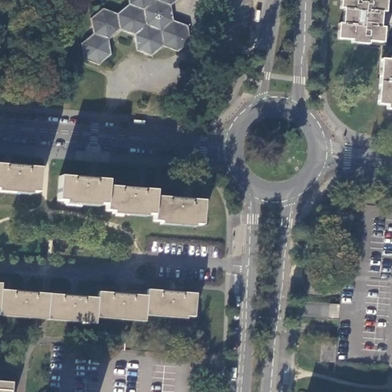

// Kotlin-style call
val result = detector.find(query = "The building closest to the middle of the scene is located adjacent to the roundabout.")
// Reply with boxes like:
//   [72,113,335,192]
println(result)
[57,174,210,232]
